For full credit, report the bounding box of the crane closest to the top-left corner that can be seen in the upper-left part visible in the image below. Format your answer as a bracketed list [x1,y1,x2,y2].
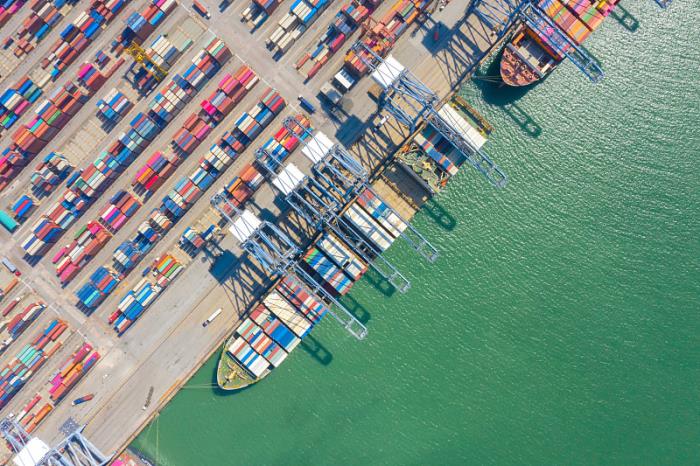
[124,40,174,86]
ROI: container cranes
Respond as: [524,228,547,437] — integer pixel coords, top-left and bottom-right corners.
[0,413,117,466]
[210,192,368,342]
[252,147,410,298]
[282,115,440,266]
[463,0,608,89]
[124,40,174,86]
[354,39,513,190]
[358,20,399,64]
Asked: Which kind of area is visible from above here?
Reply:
port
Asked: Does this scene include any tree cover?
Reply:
No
